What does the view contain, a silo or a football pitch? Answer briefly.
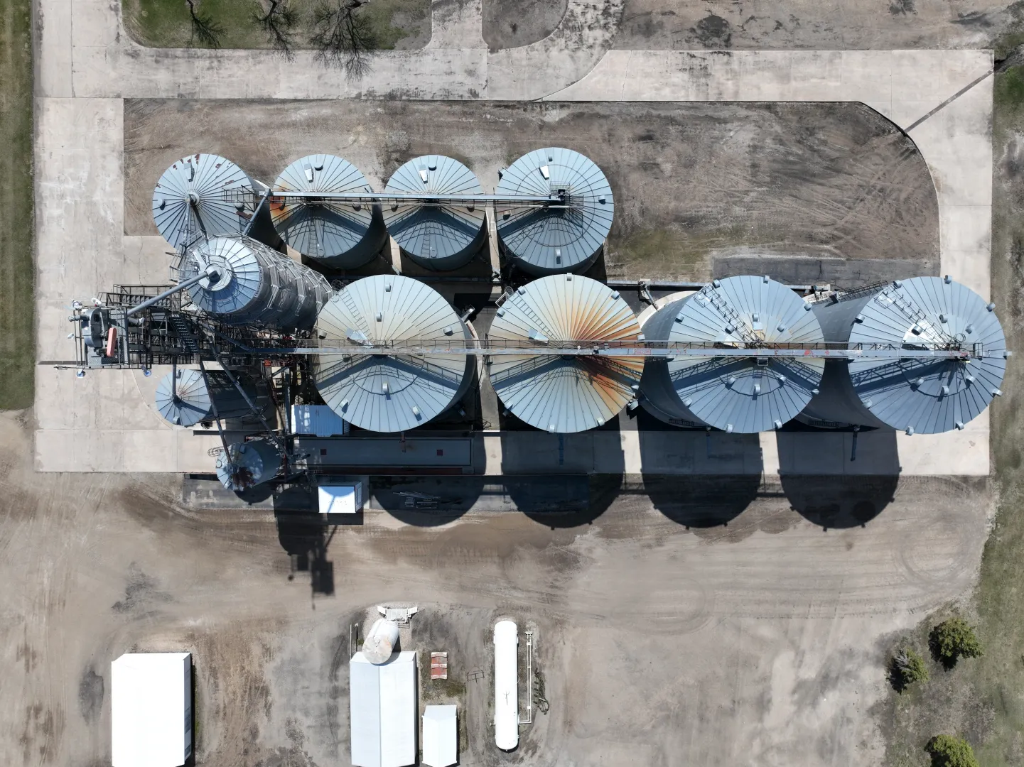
silo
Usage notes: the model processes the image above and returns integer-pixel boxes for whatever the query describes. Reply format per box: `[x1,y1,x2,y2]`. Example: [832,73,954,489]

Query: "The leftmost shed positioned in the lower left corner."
[110,653,193,767]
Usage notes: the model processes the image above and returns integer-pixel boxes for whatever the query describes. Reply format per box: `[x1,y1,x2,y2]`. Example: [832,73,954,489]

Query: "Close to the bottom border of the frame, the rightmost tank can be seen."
[492,620,520,753]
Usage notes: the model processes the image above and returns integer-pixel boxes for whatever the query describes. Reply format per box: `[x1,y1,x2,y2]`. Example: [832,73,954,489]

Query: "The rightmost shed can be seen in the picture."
[422,705,459,767]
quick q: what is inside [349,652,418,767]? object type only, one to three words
shed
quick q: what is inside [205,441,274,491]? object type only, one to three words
silo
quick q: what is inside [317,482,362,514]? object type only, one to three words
shed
